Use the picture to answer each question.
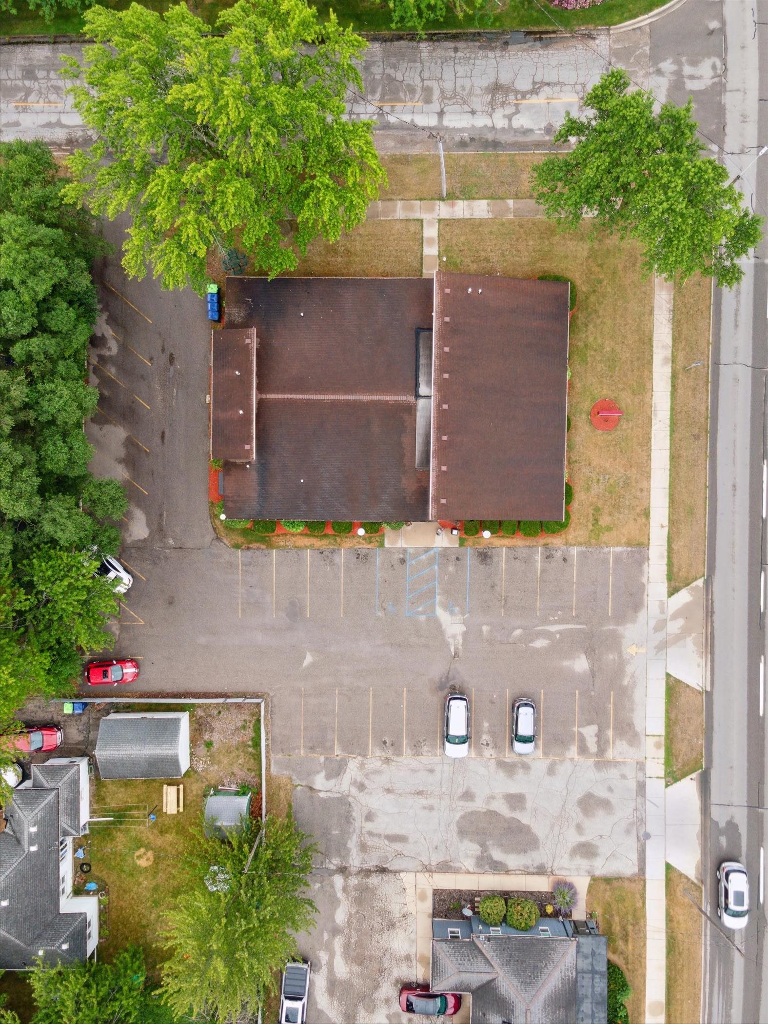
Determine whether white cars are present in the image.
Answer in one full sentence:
Yes, the photo shows a white car.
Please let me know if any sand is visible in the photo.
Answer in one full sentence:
No, there is no sand in the image.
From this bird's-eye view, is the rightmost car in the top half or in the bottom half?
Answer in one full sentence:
It is in the bottom half that the rightmost car appears.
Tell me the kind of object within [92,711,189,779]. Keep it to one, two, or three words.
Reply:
building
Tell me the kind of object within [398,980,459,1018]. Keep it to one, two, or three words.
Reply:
car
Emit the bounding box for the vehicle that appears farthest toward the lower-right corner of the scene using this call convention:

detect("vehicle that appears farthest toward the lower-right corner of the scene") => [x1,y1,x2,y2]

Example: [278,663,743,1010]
[717,864,751,929]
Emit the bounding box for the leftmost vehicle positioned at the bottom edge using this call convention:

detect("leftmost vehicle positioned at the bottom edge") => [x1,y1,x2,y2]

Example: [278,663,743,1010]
[275,961,309,1024]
